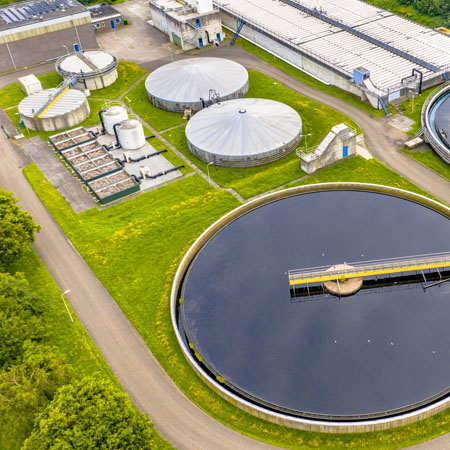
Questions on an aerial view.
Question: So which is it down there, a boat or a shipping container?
shipping container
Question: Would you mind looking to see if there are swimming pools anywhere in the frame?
No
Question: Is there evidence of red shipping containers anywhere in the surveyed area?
No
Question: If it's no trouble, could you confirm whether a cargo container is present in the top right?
No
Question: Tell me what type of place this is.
industrial area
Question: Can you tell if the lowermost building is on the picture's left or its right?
right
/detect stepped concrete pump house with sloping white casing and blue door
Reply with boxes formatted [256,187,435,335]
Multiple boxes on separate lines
[301,125,357,173]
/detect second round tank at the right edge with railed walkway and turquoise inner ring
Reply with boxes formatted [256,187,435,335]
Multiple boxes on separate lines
[420,75,450,178]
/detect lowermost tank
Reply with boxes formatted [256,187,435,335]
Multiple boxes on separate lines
[171,182,450,432]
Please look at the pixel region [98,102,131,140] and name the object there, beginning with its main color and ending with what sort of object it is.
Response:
white silo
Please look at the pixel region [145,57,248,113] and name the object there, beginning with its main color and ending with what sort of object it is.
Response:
white storage tank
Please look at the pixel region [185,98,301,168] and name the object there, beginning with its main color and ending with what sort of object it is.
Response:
white storage tank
